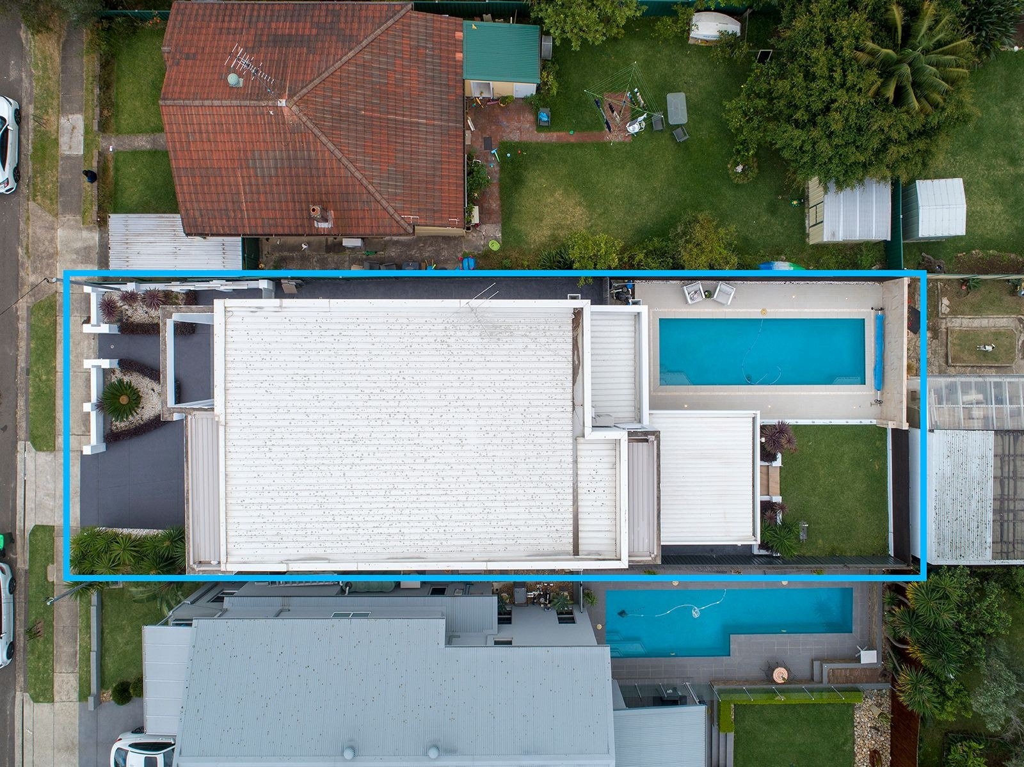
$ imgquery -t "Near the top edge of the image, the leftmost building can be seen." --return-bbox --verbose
[158,0,468,239]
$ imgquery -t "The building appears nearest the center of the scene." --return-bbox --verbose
[215,289,649,571]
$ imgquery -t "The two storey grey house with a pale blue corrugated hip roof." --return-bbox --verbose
[169,578,618,767]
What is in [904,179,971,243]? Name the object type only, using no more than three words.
shed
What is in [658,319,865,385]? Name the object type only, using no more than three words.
swimming pool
